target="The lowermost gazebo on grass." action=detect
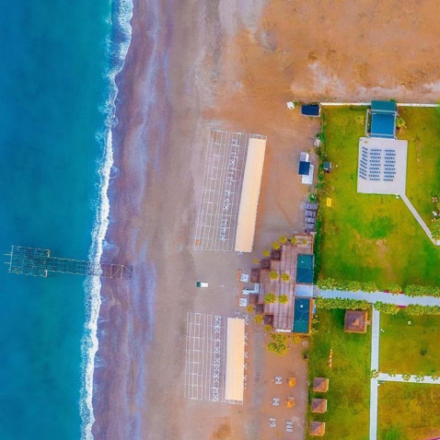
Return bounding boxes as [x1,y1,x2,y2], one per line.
[310,421,328,437]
